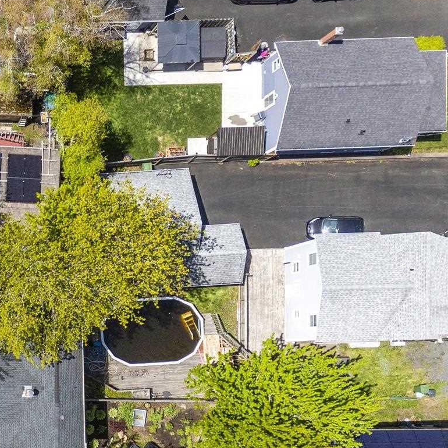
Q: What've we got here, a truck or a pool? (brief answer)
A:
pool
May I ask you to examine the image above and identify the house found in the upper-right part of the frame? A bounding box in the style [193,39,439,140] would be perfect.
[258,22,448,157]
